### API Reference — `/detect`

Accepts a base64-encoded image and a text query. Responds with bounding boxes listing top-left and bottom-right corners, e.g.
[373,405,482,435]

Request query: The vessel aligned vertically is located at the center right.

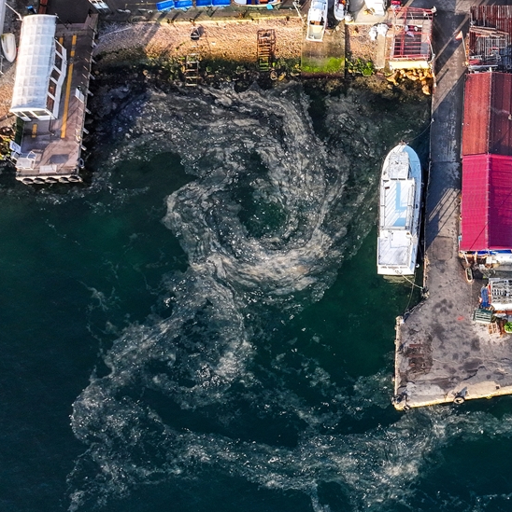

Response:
[377,126,427,310]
